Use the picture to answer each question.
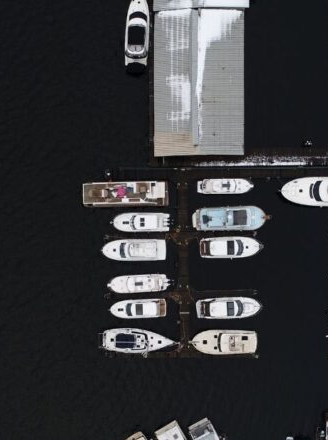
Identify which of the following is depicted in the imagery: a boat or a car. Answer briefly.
boat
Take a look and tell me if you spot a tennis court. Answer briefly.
No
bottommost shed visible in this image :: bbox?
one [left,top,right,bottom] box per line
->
[152,9,245,158]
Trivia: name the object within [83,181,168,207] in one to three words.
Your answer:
boat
